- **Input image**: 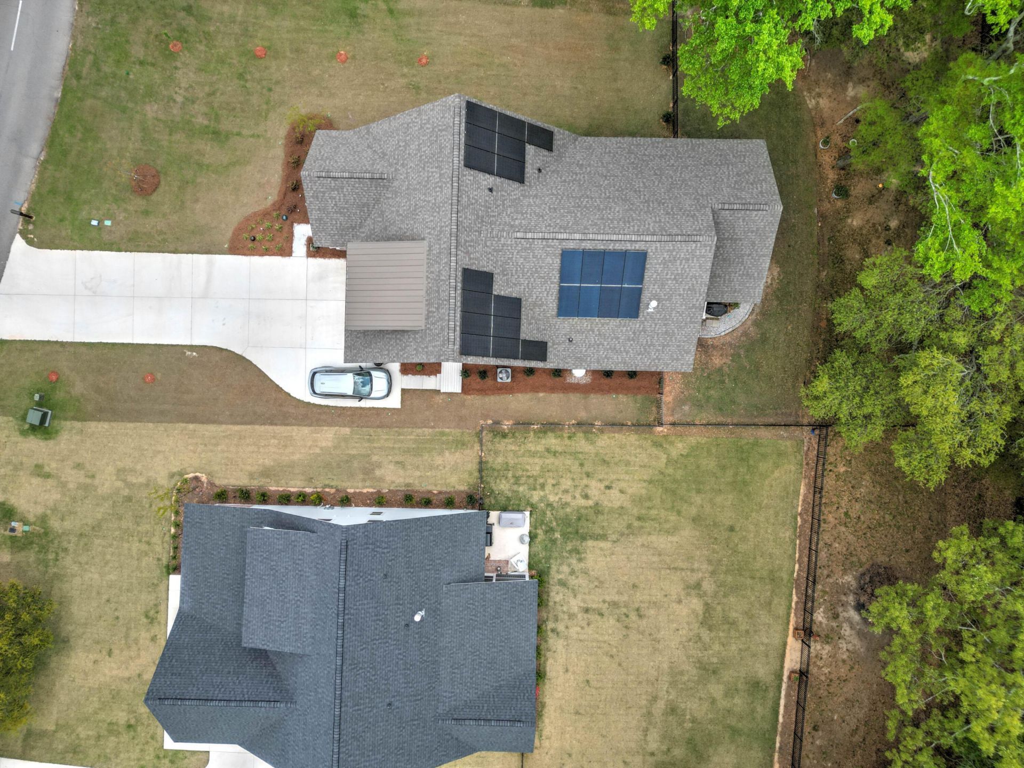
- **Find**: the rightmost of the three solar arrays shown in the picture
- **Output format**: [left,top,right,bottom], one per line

[558,251,647,322]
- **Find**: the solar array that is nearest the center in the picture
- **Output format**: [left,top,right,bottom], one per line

[463,268,550,361]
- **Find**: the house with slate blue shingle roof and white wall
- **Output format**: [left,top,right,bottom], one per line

[143,502,539,768]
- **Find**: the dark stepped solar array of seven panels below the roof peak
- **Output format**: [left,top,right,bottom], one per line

[467,101,556,184]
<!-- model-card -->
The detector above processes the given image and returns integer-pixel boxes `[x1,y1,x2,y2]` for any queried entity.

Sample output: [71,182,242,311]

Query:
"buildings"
[301,93,784,371]
[143,502,539,768]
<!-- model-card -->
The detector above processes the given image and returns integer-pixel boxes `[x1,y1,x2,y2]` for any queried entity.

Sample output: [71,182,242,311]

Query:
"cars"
[308,363,394,403]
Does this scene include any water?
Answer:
No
